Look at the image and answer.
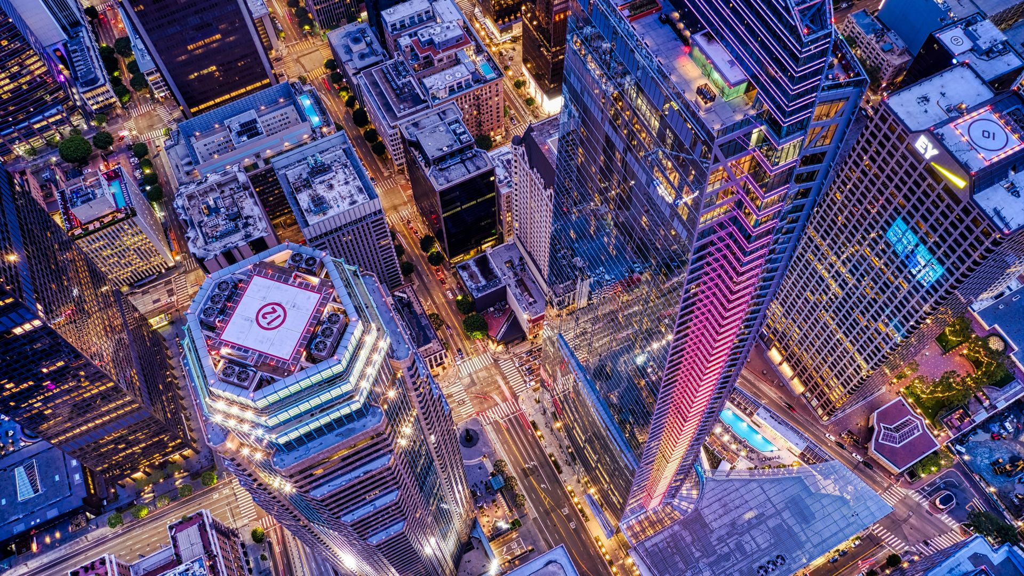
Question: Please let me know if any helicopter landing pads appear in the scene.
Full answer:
Yes, looking at the shot, I can spot a helicopter landing pad.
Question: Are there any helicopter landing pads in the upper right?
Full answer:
Yes, looking in the upper right, one can make out a helicopter landing pad.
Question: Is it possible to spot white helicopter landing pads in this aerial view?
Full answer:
No, no white helicopter landing pad is visible in the scene.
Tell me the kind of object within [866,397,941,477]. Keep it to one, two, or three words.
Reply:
building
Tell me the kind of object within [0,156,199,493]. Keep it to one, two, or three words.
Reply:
building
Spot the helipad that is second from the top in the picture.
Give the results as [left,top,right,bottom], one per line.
[952,109,1022,164]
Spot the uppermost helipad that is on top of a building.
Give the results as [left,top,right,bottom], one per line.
[933,27,970,64]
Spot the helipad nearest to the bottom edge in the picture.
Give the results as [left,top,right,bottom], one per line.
[216,271,324,364]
